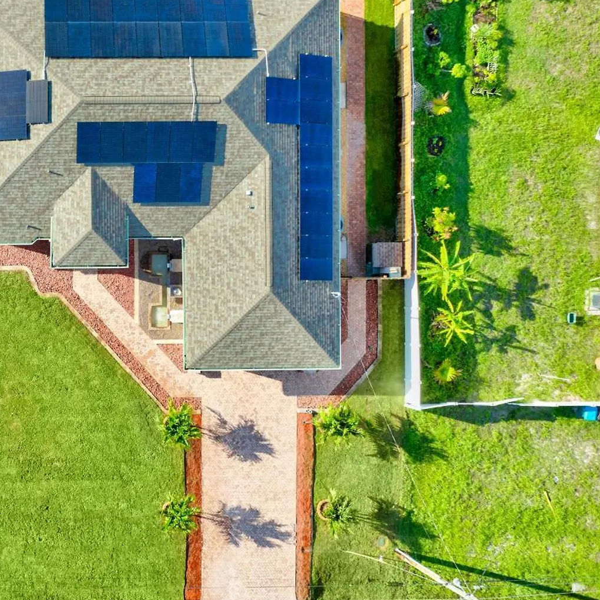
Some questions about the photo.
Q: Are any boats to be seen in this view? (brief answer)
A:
No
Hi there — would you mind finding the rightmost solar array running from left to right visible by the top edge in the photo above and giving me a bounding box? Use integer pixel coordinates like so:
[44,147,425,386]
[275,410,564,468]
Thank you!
[45,0,253,59]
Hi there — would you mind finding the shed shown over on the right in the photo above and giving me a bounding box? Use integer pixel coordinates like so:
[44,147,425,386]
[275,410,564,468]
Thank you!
[364,244,399,270]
